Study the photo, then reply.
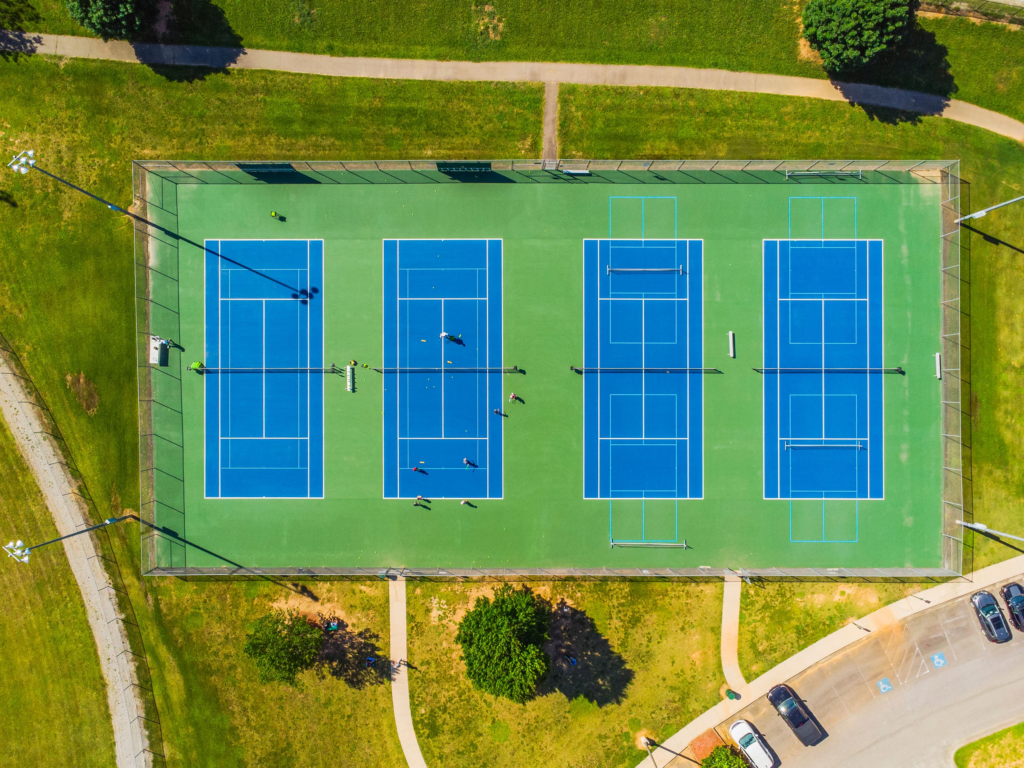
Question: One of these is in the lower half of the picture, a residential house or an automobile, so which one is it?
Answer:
automobile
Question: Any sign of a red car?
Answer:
No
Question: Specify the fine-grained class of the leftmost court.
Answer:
tennis court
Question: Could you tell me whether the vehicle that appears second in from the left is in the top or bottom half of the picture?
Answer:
bottom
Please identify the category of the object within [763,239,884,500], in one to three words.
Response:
tennis court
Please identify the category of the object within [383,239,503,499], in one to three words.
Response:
tennis court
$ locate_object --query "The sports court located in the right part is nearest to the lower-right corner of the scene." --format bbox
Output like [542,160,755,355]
[790,395,858,542]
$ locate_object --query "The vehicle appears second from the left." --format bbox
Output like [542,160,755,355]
[766,682,822,747]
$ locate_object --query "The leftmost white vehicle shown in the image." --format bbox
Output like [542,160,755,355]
[729,721,773,768]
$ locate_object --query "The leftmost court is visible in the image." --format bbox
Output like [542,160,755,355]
[205,239,324,499]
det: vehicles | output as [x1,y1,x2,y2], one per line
[968,591,1009,645]
[766,682,822,747]
[729,721,773,768]
[1001,580,1024,633]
